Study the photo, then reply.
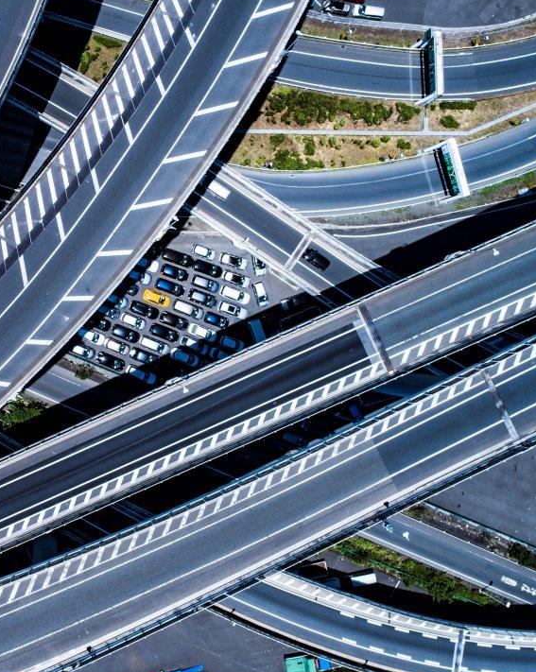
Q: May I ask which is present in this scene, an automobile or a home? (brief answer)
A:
automobile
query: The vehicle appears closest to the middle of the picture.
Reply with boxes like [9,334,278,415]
[247,319,267,347]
